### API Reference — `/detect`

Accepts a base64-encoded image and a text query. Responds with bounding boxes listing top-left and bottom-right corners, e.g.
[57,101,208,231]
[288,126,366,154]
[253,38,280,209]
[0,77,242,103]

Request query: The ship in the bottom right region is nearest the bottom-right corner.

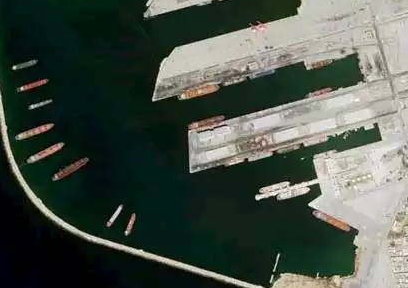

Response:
[314,210,350,230]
